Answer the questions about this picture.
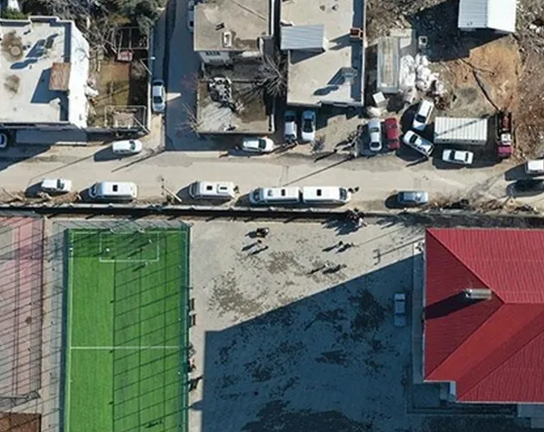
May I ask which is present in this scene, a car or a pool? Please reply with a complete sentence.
It is a car that can be seen here.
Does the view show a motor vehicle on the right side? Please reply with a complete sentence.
Yes, a motor vehicle can be seen on the right side.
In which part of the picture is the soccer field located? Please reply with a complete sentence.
The soccer field is in the bottom left part of the image.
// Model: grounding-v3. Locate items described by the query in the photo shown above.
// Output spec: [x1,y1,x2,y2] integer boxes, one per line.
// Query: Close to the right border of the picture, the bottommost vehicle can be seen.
[511,176,544,194]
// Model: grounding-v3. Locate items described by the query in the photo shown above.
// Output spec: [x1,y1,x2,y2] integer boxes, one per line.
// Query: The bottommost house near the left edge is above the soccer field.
[0,17,94,135]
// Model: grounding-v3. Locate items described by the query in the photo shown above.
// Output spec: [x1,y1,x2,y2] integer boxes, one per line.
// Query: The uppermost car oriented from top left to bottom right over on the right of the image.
[399,130,436,159]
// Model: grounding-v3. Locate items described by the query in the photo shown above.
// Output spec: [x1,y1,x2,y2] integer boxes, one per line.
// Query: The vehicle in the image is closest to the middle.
[253,186,299,206]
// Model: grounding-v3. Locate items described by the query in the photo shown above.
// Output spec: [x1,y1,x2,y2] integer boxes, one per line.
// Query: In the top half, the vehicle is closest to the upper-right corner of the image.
[497,114,515,159]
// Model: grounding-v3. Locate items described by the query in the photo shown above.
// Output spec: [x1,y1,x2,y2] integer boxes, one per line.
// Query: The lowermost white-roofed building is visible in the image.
[433,117,488,146]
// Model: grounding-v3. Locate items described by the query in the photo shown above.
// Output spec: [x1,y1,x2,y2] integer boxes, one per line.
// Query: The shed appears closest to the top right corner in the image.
[457,0,515,40]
